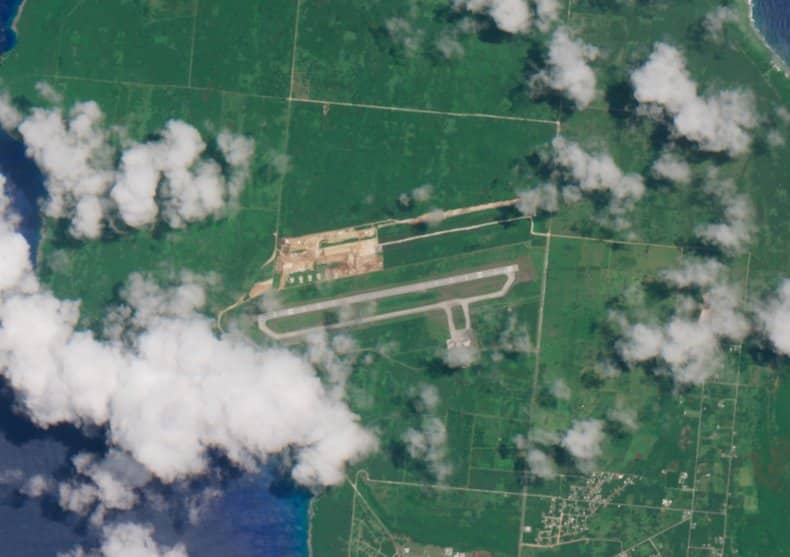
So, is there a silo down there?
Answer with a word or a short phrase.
No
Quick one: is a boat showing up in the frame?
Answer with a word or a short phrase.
No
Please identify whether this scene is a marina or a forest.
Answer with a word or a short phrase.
forest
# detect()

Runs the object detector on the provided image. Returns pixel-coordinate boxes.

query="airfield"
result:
[260,254,535,352]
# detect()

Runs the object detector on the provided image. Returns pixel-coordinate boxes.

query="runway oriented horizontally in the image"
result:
[261,265,519,320]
